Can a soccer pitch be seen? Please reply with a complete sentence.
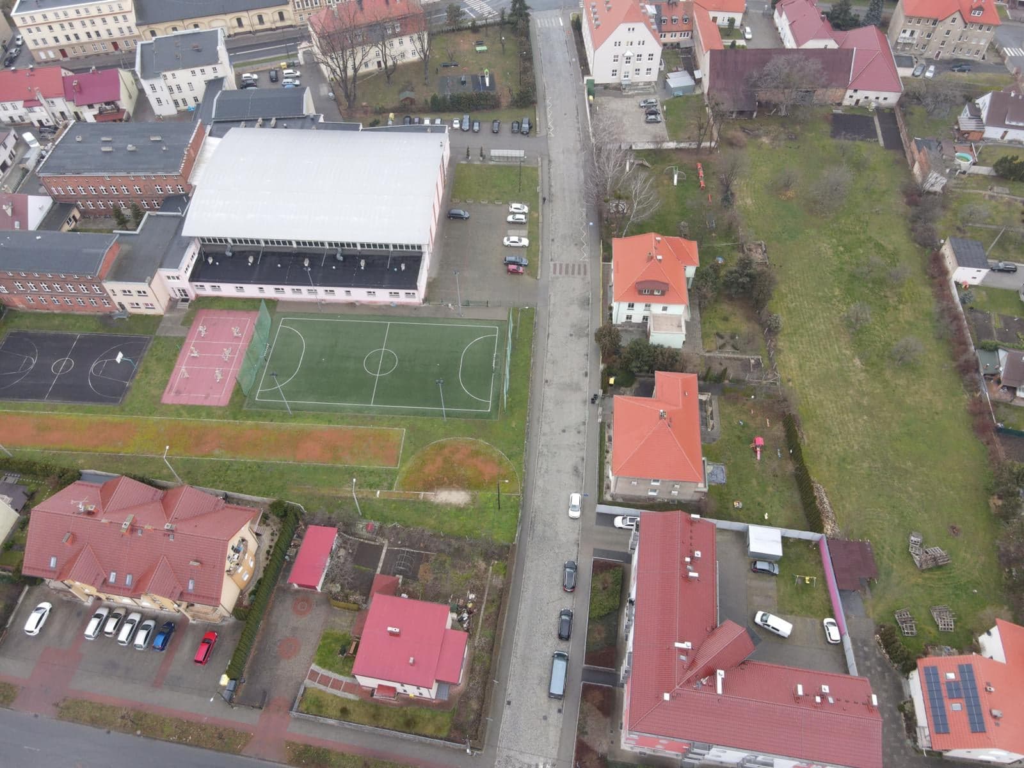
Yes, the photo shows a soccer pitch.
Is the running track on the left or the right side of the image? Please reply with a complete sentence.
It is on the left.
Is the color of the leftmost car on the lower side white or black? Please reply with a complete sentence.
The leftmost car on the lower side looks white in the image.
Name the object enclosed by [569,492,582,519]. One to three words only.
vehicle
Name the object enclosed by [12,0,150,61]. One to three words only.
building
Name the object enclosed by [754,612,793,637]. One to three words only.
vehicle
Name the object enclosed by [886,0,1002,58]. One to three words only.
house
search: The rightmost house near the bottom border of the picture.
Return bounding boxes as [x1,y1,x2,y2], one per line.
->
[898,611,1024,757]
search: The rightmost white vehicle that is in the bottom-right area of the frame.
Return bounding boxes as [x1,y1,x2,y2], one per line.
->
[820,616,844,646]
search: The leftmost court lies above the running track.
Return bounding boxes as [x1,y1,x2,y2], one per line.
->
[0,329,154,405]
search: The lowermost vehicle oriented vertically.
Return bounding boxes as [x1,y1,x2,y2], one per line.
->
[550,651,568,696]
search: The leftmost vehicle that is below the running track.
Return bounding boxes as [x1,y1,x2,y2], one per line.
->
[21,604,54,635]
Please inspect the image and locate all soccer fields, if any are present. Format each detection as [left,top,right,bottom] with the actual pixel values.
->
[245,311,510,420]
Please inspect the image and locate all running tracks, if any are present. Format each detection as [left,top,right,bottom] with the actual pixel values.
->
[0,411,405,467]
